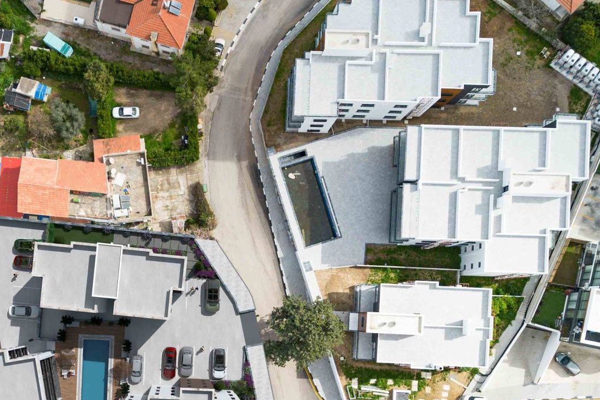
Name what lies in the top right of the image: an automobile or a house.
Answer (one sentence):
Looking in the top right of the image, you will find a house.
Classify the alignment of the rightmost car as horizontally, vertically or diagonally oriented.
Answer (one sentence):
What the image shows is the rightmost car lying diagonally.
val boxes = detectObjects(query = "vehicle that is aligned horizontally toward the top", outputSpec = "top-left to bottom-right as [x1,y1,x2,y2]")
[111,105,140,119]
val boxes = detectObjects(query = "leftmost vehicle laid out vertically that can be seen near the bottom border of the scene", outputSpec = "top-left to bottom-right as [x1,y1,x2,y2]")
[130,354,144,385]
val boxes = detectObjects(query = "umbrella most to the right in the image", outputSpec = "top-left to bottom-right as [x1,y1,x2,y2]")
[112,361,131,379]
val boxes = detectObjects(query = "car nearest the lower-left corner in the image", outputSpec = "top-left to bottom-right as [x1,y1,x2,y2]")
[8,304,38,319]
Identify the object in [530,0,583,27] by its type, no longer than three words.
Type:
house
